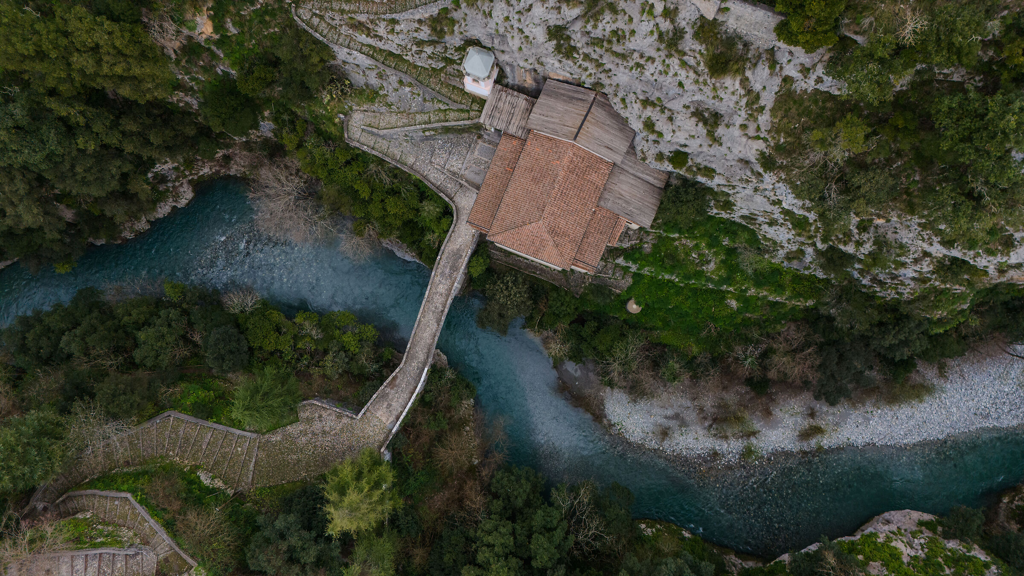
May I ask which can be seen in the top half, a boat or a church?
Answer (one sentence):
You can see a church in the top half.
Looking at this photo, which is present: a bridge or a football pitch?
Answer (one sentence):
Of the two, only a bridge appears.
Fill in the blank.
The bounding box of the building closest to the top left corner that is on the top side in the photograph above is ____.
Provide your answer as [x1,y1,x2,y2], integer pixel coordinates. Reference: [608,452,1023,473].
[462,47,499,98]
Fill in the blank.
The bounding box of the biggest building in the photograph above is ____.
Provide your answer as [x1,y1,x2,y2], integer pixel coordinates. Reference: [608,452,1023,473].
[466,78,667,273]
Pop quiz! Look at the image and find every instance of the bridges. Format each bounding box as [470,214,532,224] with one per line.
[358,213,481,450]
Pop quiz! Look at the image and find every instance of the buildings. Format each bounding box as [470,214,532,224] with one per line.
[462,47,499,98]
[466,78,667,273]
